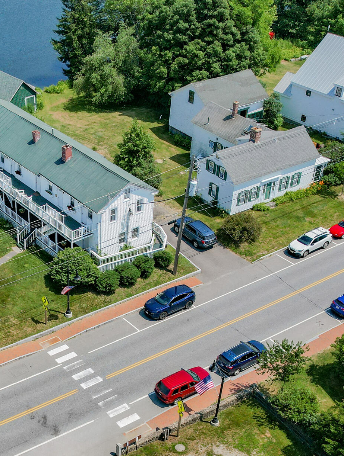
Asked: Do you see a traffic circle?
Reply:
No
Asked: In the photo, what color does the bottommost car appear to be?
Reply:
red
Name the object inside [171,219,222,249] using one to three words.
car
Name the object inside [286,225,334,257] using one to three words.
car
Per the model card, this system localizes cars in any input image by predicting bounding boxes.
[171,219,222,249]
[286,225,334,257]
[151,367,211,406]
[211,341,266,377]
[331,223,344,243]
[143,285,198,321]
[328,293,344,321]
